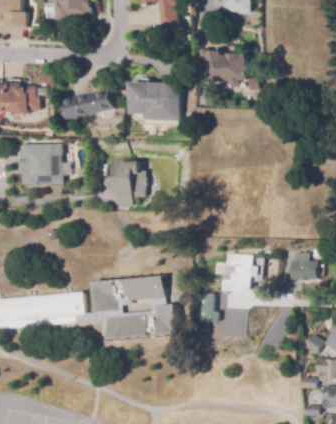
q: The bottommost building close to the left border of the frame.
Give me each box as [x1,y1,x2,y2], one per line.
[0,292,84,320]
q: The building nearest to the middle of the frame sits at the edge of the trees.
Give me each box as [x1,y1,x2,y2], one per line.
[107,162,148,210]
